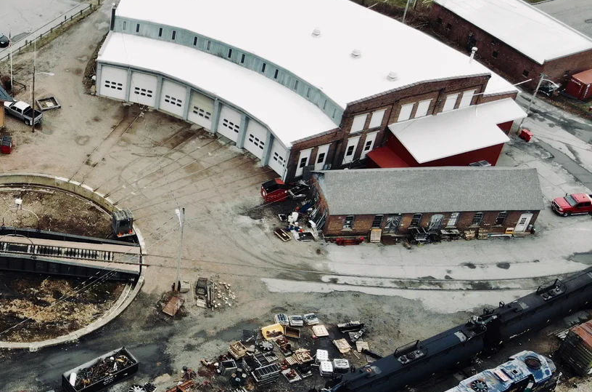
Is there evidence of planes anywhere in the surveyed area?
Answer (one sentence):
No, this view has no plane in it.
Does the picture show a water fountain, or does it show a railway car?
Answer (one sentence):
The one in the frame is a railway car.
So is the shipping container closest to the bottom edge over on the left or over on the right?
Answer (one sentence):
It is on the left.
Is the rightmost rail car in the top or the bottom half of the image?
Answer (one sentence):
The rightmost rail car is in the bottom half of the image.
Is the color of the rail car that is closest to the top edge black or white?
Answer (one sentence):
The rail car that is closest to the top edge looks black in the image.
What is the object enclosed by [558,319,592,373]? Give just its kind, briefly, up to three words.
rail car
